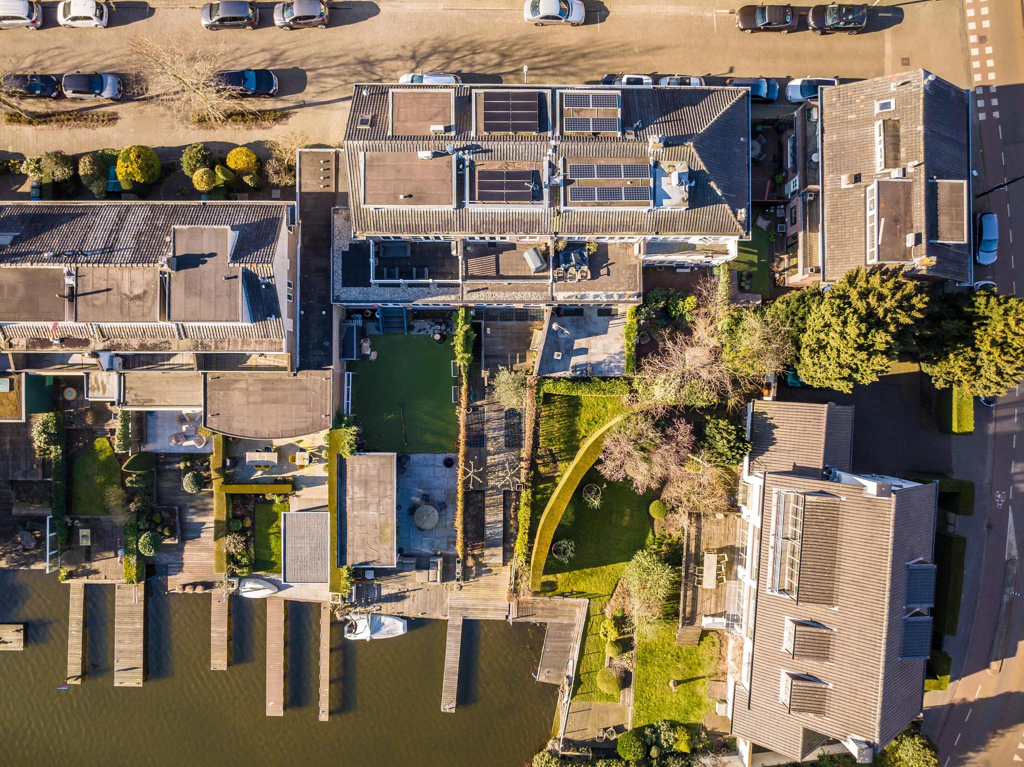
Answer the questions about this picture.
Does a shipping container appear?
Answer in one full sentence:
No, there appears to be no shipping container in this shot.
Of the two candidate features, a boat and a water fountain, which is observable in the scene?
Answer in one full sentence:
Visible in the photo is a boat.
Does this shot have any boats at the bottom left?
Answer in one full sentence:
Yes, you'll find a boat at the bottom left.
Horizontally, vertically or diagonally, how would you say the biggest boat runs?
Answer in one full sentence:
In this picture, the biggest boat lies horizontally.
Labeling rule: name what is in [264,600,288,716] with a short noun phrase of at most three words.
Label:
pier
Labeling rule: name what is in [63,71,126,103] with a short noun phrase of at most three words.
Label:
car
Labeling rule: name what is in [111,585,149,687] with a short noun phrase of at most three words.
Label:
pier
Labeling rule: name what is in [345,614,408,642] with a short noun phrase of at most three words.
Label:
boat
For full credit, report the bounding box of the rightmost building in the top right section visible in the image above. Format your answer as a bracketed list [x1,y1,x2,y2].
[781,64,972,292]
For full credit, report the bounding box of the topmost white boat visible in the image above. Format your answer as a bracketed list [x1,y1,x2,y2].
[238,578,280,599]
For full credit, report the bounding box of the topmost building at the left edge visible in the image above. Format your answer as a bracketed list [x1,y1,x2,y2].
[0,201,301,372]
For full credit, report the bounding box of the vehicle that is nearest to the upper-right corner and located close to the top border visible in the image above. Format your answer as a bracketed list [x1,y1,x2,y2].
[804,5,866,39]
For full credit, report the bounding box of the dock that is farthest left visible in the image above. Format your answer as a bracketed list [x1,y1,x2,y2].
[0,620,29,652]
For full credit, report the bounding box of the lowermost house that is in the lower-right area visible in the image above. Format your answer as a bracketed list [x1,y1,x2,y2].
[714,458,940,767]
